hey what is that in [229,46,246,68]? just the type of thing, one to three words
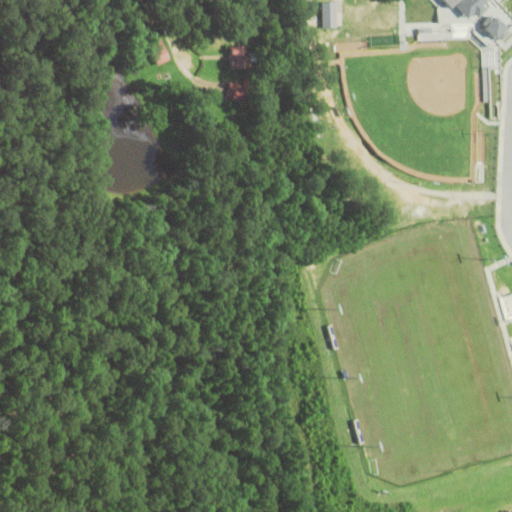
house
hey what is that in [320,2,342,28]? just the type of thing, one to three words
barn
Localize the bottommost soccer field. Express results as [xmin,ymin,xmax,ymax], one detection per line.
[320,218,512,486]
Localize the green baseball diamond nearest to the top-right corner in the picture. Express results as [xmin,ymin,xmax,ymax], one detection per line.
[336,42,484,184]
